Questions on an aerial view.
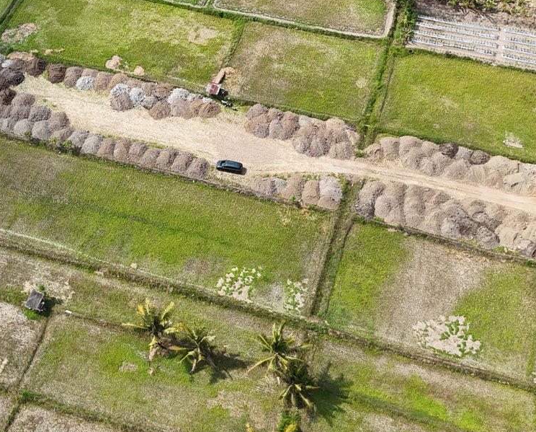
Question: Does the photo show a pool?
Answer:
No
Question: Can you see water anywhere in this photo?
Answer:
No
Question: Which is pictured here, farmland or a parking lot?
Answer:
farmland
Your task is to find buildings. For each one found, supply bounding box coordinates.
[21,288,46,312]
[207,79,224,99]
